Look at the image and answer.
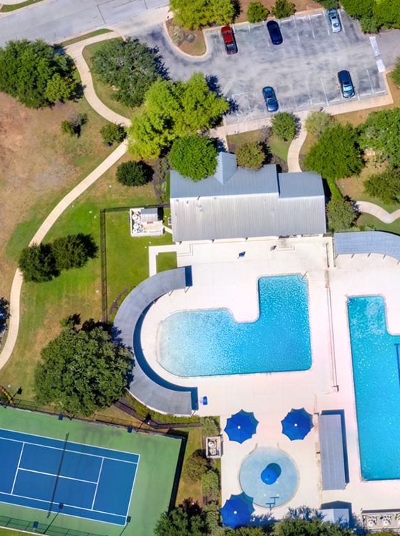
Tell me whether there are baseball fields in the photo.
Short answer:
No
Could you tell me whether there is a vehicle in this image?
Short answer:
Yes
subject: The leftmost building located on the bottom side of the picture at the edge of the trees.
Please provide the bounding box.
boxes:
[114,267,191,416]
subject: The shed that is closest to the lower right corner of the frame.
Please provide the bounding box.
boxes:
[317,508,348,529]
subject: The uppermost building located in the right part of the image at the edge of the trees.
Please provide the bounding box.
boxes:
[170,152,327,242]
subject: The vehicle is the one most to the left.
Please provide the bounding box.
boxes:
[221,25,238,56]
